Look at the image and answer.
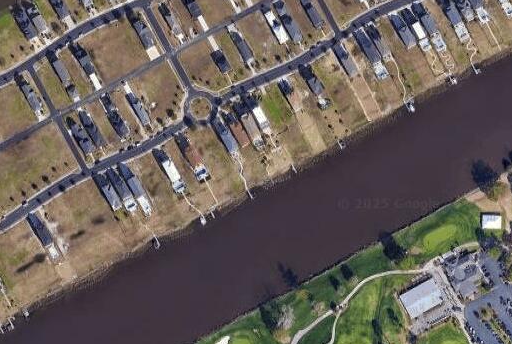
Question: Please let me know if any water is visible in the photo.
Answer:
Yes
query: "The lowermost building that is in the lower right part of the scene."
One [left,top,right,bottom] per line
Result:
[400,279,445,318]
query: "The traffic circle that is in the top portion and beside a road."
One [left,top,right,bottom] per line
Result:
[179,88,220,129]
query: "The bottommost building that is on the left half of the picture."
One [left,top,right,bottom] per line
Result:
[27,215,55,249]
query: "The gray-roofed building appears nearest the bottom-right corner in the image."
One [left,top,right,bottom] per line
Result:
[446,256,490,300]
